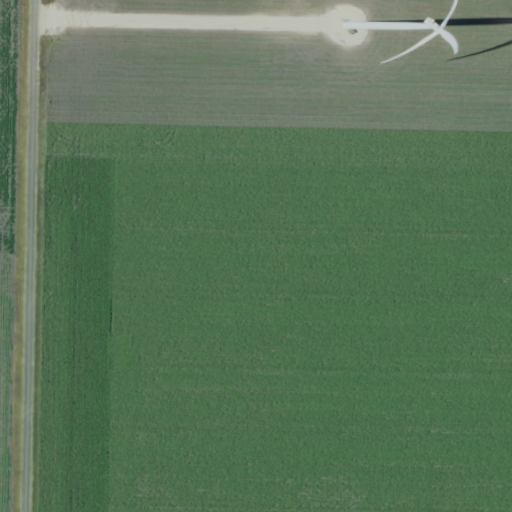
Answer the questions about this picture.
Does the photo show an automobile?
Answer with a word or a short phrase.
No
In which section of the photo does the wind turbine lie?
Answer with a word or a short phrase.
top right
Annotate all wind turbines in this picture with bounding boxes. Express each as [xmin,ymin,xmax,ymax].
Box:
[340,0,457,62]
